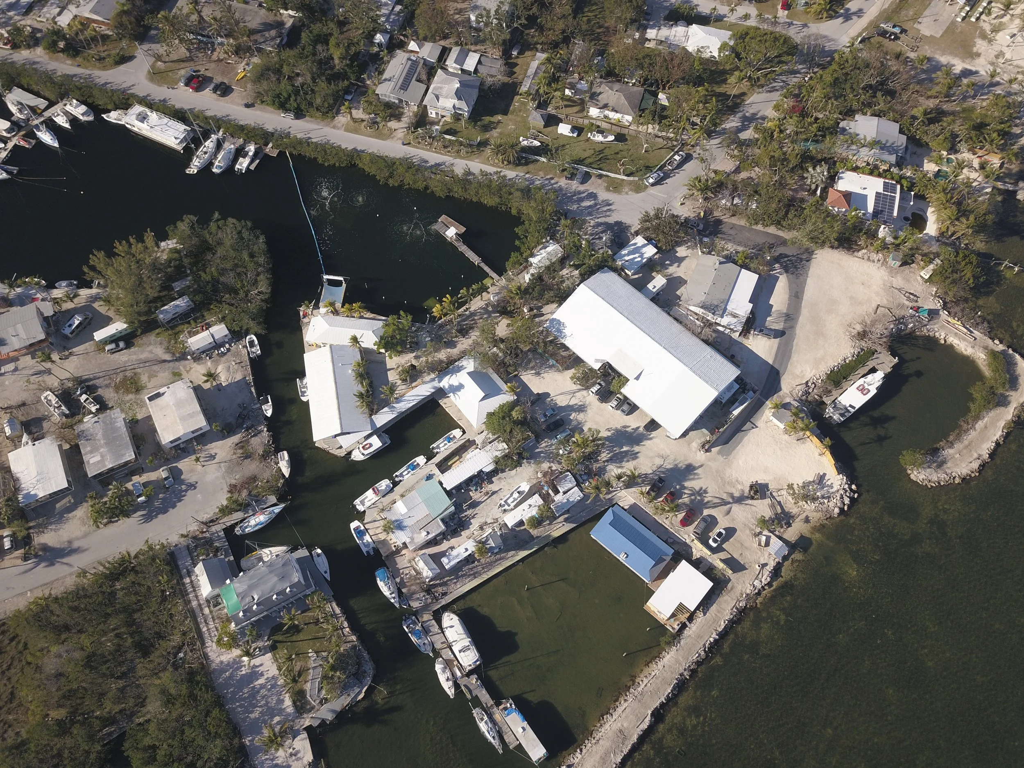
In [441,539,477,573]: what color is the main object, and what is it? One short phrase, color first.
white camper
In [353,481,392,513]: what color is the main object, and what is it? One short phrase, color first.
white boat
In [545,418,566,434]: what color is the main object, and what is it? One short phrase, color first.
black car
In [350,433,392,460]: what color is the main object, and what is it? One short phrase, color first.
white boat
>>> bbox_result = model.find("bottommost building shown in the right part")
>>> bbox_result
[644,560,713,632]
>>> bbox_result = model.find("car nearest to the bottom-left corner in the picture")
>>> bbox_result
[1,531,17,553]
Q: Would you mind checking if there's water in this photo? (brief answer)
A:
Yes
